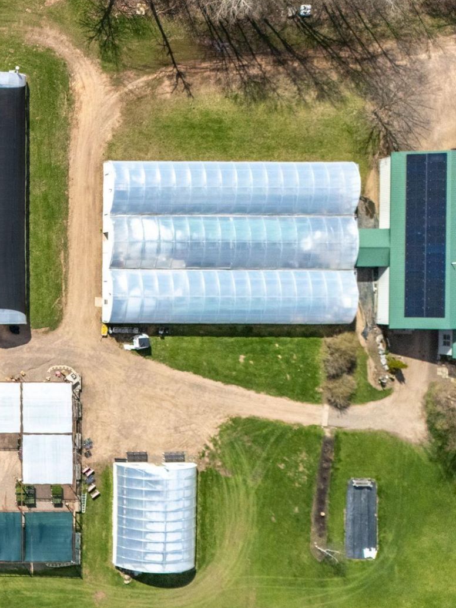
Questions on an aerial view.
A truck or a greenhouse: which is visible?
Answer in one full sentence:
Looking from above, you can make out a greenhouse.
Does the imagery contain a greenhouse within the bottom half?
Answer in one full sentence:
Yes, I can see a greenhouse within the bottom half.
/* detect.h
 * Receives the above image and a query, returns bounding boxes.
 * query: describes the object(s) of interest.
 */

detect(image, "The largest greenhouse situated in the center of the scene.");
[99,161,368,323]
